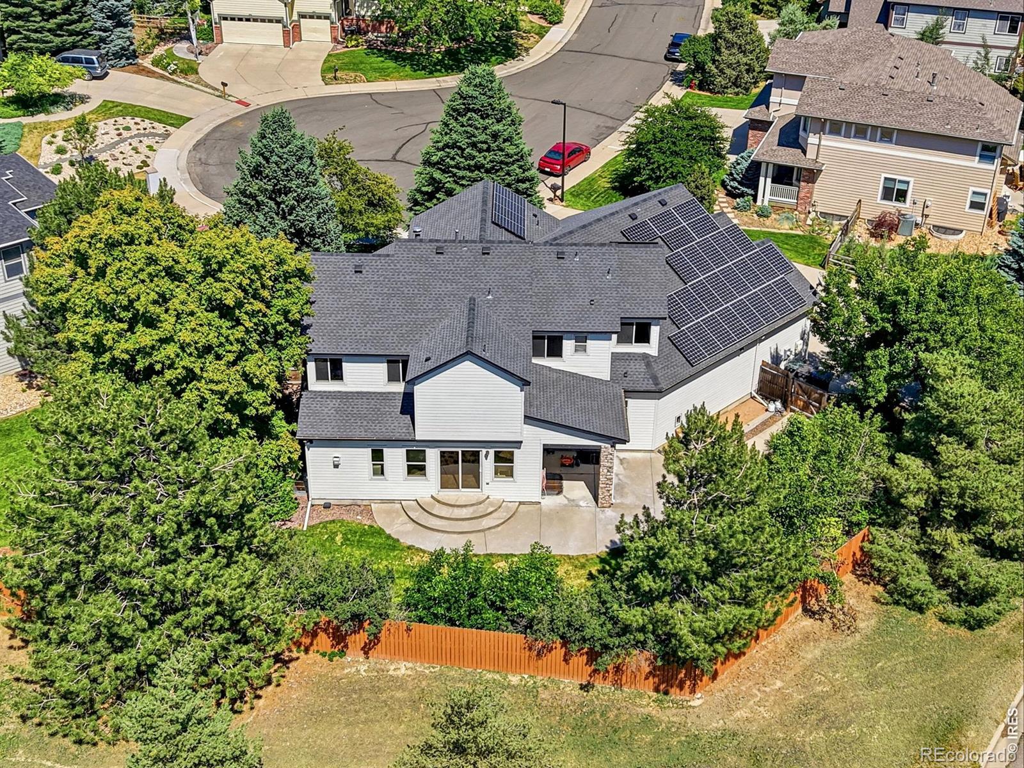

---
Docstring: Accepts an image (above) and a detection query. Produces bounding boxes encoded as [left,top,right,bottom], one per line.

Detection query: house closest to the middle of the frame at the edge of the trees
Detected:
[294,180,825,542]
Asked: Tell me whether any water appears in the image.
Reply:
No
